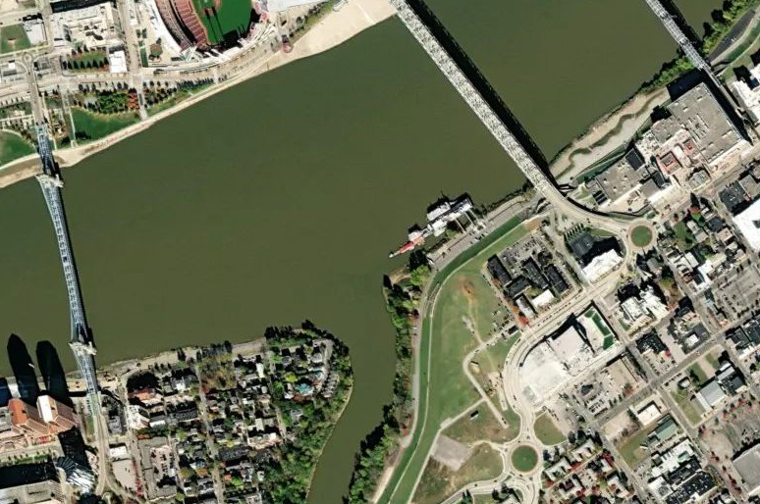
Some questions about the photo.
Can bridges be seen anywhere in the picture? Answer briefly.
Yes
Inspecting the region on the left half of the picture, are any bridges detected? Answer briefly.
Yes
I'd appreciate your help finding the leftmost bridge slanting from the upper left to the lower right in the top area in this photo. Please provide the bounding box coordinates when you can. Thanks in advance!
[387,0,628,233]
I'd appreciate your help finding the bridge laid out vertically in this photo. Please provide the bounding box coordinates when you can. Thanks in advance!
[25,59,109,448]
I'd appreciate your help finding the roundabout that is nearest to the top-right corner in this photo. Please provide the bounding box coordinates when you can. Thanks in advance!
[627,220,657,250]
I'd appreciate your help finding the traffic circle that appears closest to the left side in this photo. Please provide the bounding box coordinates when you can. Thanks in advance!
[507,441,540,474]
